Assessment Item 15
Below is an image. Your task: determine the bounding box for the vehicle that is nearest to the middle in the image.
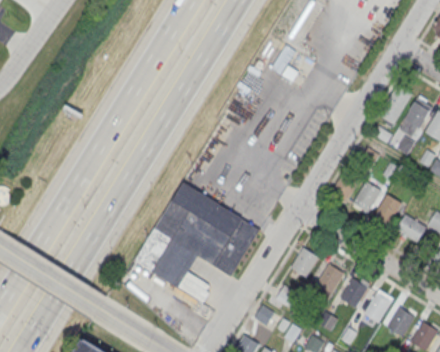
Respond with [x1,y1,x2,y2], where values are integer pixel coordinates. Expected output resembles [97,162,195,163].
[216,162,231,184]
